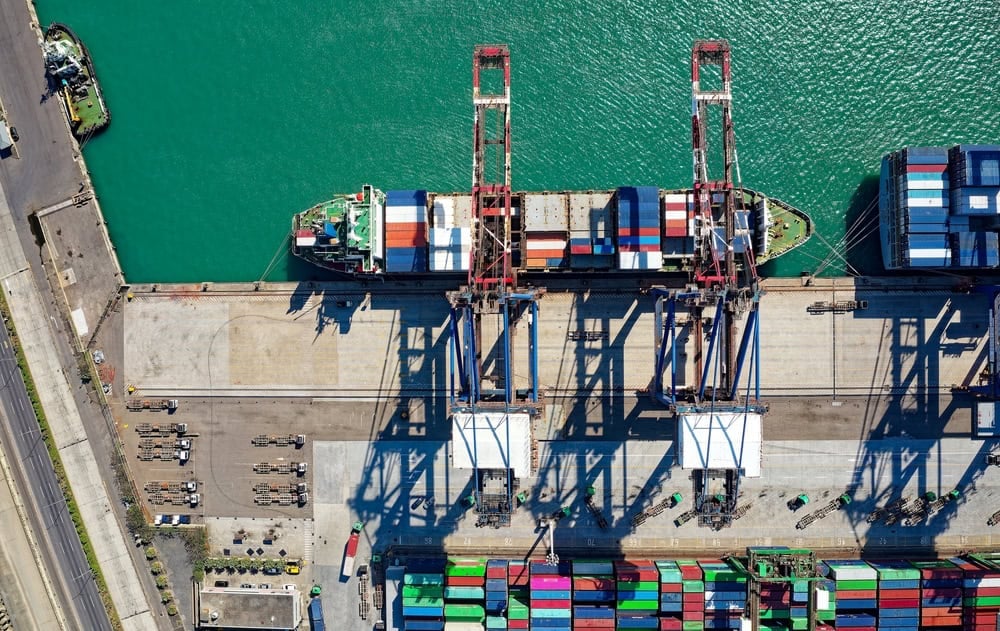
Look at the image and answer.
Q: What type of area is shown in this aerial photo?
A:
port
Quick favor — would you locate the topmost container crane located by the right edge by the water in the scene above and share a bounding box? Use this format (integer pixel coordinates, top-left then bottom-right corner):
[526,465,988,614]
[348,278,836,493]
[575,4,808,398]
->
[943,289,1000,437]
